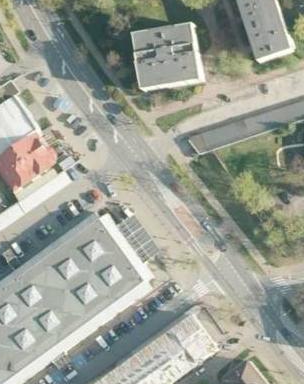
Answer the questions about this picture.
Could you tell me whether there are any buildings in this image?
Yes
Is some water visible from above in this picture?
No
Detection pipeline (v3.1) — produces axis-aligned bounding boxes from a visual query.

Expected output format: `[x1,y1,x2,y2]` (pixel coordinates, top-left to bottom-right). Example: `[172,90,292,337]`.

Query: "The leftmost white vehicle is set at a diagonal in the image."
[10,242,24,257]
